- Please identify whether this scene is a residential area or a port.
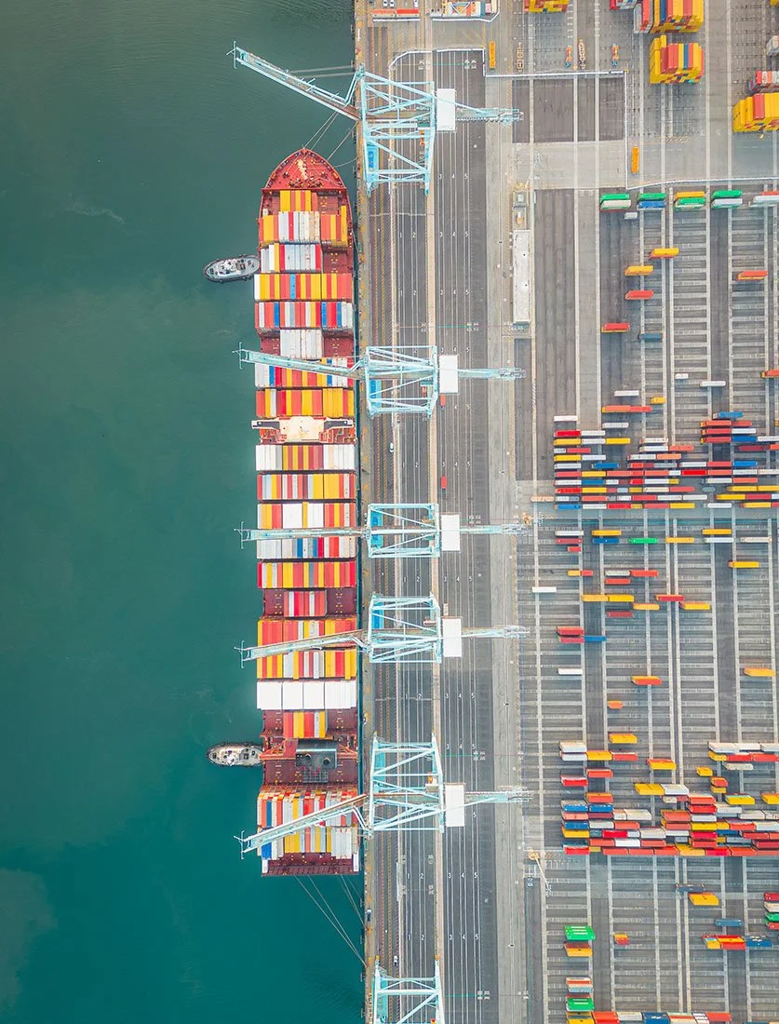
port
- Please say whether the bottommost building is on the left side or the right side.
right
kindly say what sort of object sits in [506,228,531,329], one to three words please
building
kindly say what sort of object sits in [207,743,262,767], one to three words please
boat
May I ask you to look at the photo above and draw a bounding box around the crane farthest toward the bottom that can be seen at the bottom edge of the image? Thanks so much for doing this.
[371,960,445,1024]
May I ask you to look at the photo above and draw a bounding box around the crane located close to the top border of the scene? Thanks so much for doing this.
[227,37,521,194]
